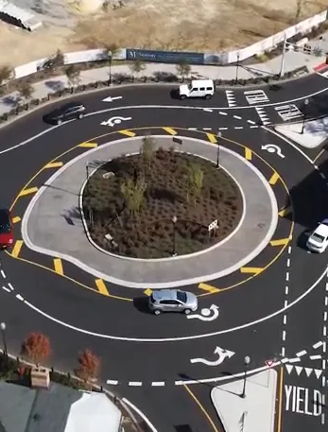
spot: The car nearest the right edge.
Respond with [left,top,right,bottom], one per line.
[306,218,328,251]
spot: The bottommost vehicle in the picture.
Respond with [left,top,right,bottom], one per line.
[147,287,198,314]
